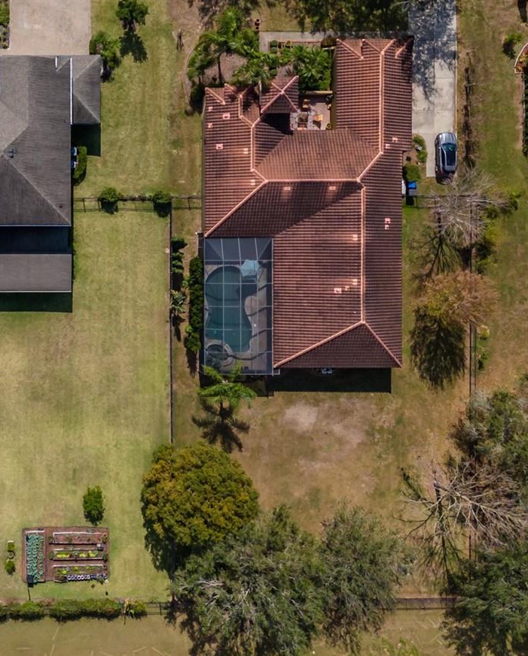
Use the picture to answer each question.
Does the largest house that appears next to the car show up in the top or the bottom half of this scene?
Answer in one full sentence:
You can find the largest house that appears next to the car in the top half.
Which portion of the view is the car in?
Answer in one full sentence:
Look in the top right portion of the view to spot the car.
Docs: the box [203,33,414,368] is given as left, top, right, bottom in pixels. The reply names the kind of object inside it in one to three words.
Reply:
house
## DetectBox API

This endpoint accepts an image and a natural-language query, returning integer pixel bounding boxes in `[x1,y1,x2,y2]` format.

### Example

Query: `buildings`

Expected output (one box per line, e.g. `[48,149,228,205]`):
[203,33,414,368]
[0,51,100,225]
